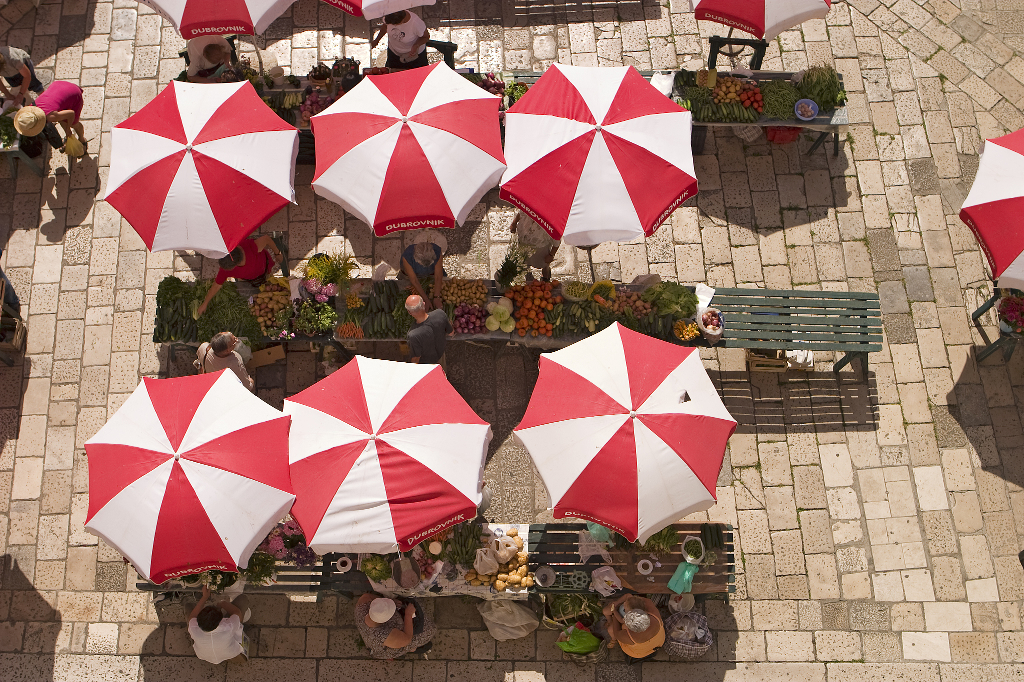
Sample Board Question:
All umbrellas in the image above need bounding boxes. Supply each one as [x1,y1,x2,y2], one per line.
[336,0,438,67]
[126,0,295,77]
[308,59,508,247]
[83,368,296,585]
[957,123,1024,293]
[103,79,300,259]
[512,319,738,544]
[283,354,492,553]
[684,0,835,56]
[497,62,698,253]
